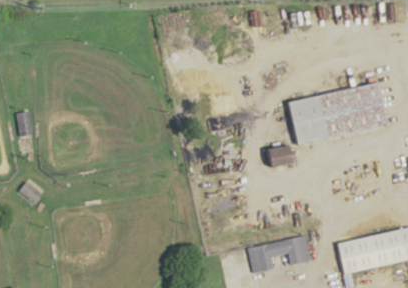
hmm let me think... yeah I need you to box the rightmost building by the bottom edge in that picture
[338,229,408,288]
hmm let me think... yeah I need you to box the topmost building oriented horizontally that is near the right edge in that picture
[289,83,388,144]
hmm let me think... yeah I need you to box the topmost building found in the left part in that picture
[16,110,32,136]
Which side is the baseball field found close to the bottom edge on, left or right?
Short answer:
left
